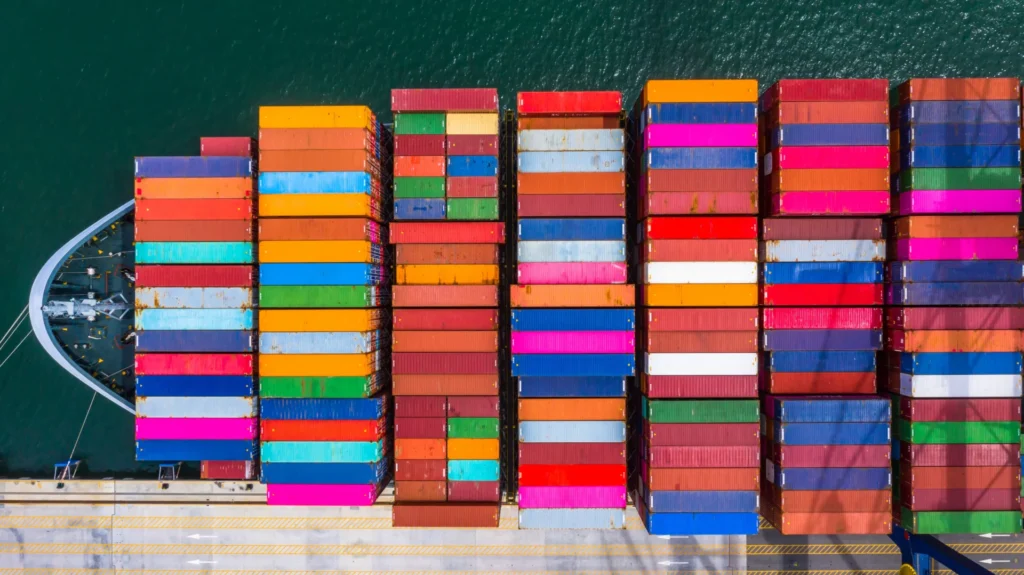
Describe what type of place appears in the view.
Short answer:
port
